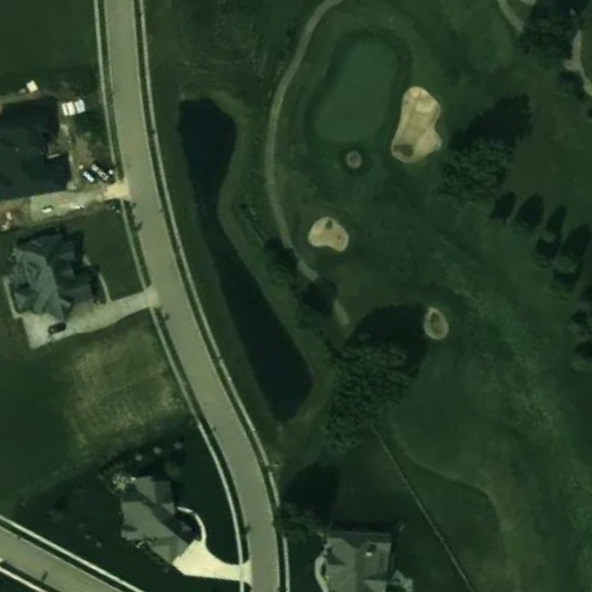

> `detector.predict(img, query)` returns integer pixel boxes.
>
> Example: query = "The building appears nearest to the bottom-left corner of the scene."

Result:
[117,476,198,566]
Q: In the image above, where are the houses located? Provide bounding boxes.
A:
[0,98,70,201]
[325,533,395,592]
[117,476,198,566]
[7,231,94,323]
